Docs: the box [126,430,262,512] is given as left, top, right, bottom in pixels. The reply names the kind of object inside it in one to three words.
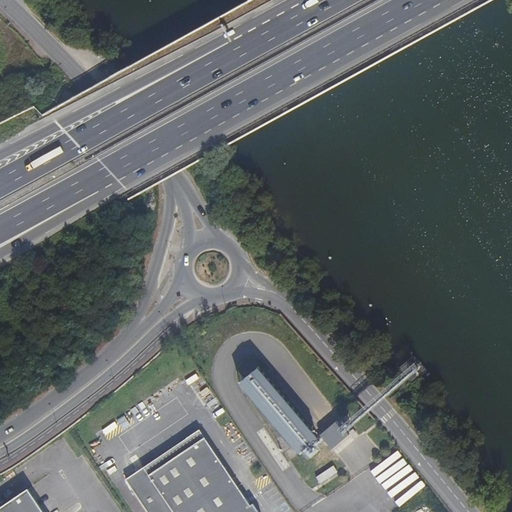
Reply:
building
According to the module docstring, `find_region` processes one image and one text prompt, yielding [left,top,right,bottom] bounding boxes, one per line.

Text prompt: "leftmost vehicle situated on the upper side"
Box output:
[26,146,64,170]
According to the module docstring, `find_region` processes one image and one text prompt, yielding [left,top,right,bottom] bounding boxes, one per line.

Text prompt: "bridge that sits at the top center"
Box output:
[42,0,494,198]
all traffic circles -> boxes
[192,248,232,287]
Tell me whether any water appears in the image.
Yes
